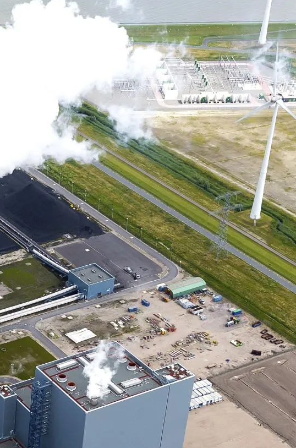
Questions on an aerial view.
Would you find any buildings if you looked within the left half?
Yes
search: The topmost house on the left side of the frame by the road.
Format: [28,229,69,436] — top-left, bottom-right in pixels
[69,263,113,299]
